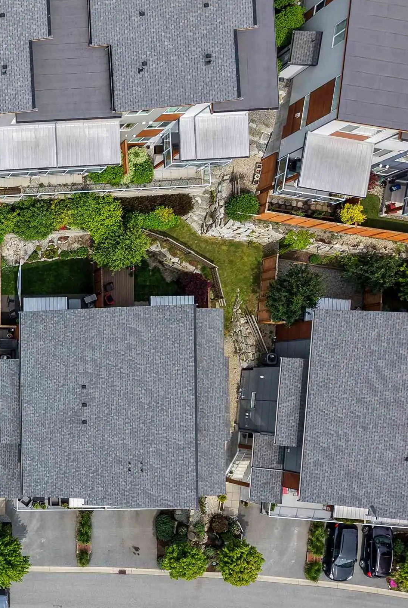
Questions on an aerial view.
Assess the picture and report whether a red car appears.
No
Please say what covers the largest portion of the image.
buildings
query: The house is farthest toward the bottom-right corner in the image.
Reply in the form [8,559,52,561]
[225,297,408,527]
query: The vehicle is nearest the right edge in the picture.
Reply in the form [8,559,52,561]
[356,524,392,579]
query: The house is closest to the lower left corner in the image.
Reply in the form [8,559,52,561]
[0,295,231,510]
